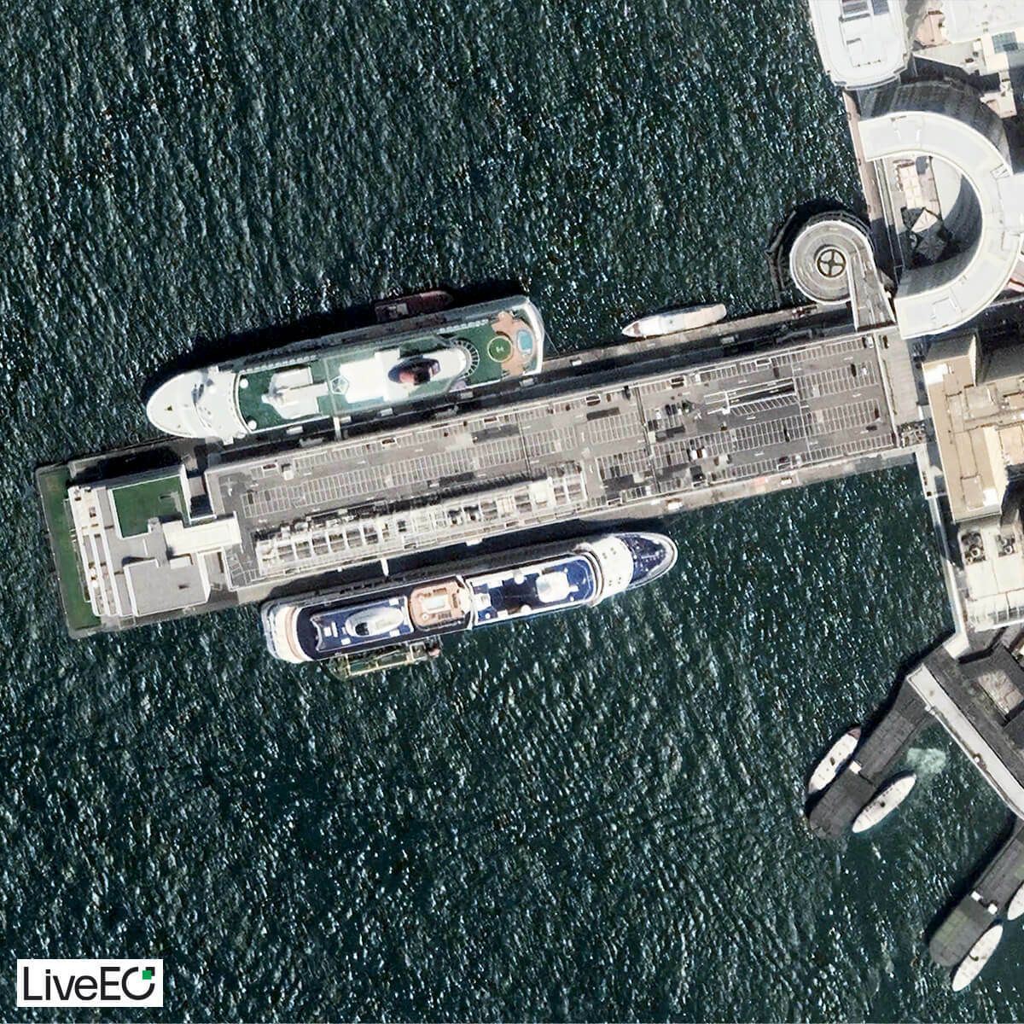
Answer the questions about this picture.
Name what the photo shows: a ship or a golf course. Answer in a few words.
ship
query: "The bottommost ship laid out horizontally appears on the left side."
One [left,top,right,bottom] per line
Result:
[329,634,441,680]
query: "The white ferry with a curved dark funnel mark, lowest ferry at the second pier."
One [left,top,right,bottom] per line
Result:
[953,924,1002,988]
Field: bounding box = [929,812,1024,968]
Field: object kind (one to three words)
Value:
pier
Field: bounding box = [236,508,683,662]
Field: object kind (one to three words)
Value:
ship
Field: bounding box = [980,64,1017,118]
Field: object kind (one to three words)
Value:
house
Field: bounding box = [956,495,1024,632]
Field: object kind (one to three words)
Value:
building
